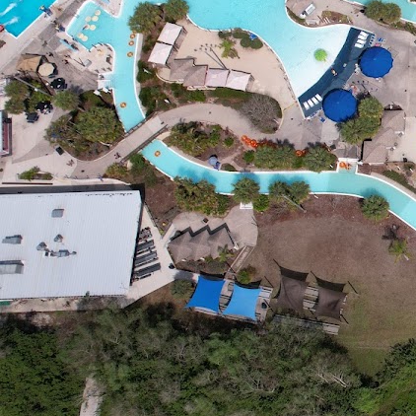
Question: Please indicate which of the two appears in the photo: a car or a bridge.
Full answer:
Visible in the photo is a bridge.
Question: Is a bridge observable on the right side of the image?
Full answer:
No, no bridge appears on the right side of the image.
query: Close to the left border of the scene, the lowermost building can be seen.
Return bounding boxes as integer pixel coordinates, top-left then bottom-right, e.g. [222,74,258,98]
[0,191,143,302]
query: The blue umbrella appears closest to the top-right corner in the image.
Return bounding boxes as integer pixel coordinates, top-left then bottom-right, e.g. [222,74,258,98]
[359,47,393,79]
